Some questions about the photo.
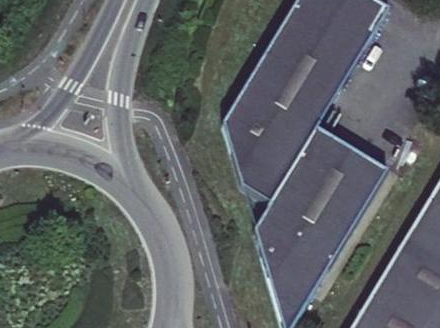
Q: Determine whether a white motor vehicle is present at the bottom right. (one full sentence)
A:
No, the scene shows no white motor vehicle at the bottom right.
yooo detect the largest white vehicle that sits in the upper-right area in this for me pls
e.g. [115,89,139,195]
[364,48,381,72]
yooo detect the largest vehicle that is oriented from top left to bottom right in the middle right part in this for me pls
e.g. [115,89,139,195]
[382,129,402,146]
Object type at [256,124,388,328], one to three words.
building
